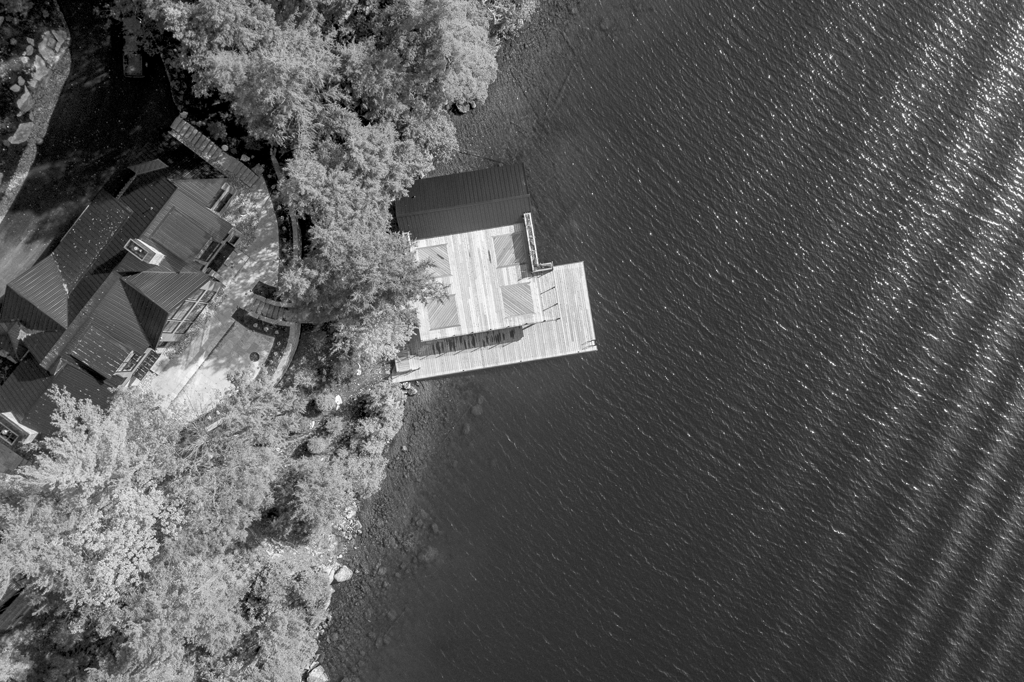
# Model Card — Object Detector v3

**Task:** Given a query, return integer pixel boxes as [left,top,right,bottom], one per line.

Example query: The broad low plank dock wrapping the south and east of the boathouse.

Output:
[388,261,597,382]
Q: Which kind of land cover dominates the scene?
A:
water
